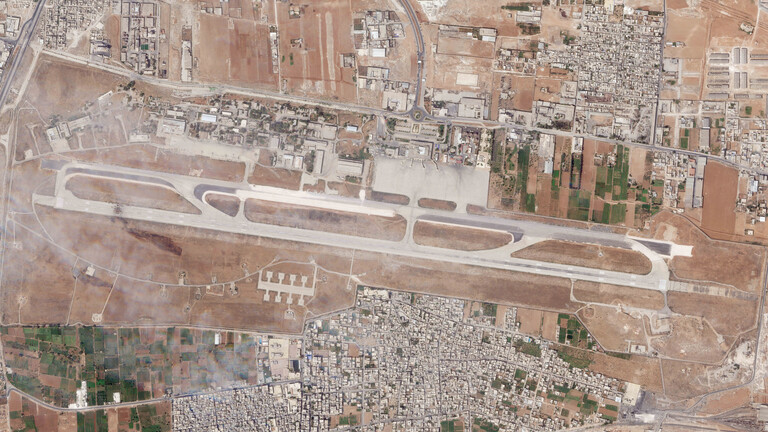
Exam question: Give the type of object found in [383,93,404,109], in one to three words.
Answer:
building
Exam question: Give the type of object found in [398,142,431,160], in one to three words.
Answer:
building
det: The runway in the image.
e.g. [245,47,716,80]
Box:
[56,196,664,291]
